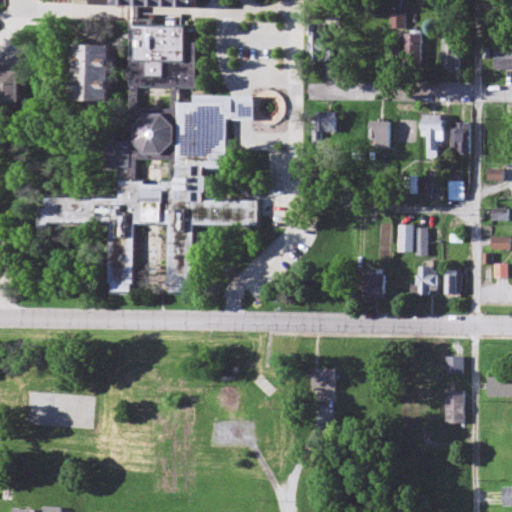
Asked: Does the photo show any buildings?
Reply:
Yes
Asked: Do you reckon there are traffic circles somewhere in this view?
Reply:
No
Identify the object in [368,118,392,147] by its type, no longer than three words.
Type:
house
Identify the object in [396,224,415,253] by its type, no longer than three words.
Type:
building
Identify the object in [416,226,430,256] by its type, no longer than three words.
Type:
building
